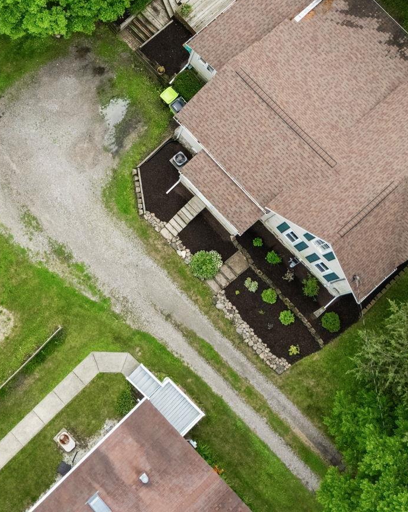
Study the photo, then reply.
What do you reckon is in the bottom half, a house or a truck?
house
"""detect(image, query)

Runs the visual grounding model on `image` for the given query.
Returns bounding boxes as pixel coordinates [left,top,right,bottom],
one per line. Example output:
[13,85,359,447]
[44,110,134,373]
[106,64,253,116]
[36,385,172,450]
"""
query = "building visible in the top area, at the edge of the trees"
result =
[166,0,408,308]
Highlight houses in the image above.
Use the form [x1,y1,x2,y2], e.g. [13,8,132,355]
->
[30,397,252,512]
[166,0,408,308]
